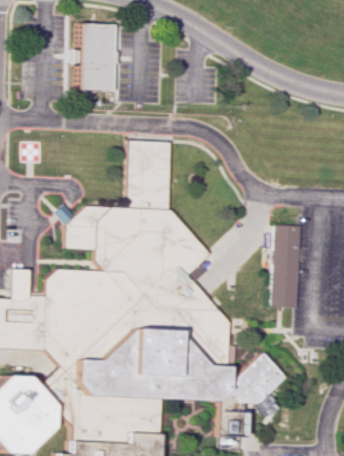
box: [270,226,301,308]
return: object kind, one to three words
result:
building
